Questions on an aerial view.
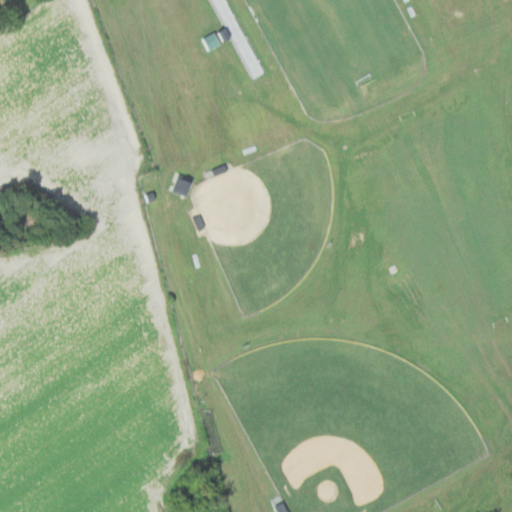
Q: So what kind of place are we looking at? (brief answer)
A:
sports ground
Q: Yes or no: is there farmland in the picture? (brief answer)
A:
Yes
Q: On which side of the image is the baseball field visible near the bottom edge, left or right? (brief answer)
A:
right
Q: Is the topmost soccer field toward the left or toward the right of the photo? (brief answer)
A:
right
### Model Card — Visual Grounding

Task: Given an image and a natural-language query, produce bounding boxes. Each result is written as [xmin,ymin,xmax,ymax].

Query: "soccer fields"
[376,92,512,335]
[244,0,426,124]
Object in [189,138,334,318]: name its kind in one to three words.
baseball field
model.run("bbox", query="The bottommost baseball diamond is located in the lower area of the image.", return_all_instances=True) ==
[214,338,489,512]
